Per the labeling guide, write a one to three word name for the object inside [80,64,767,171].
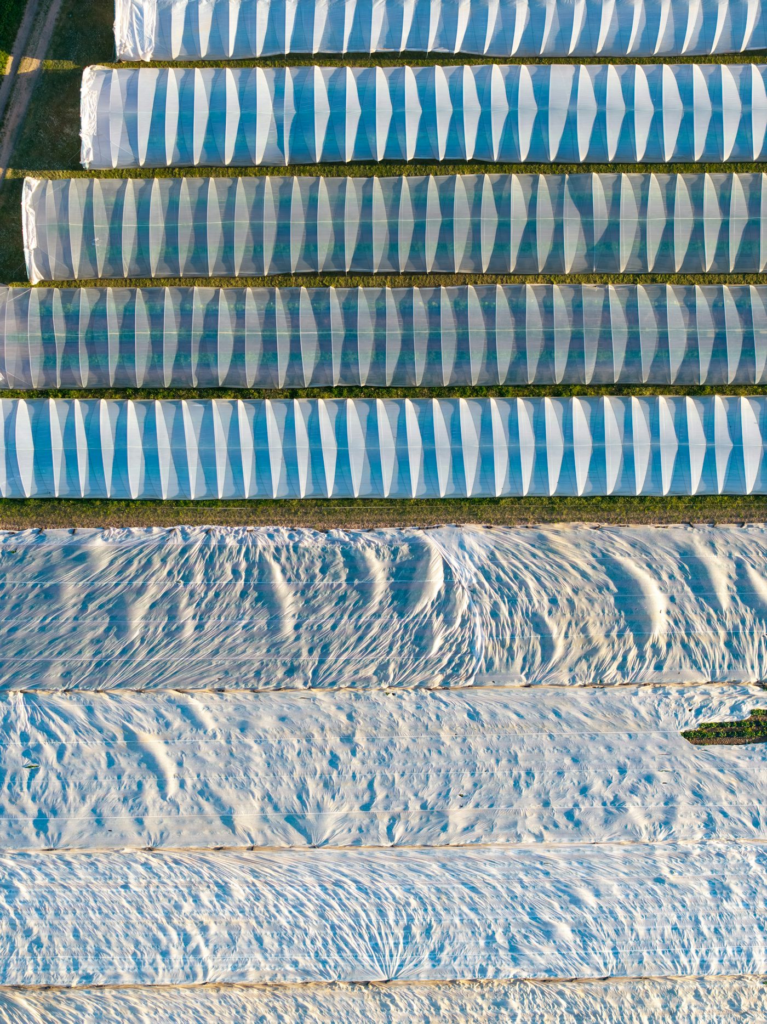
greenhouse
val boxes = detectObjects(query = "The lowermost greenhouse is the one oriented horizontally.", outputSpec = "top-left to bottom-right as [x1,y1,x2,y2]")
[0,395,767,501]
